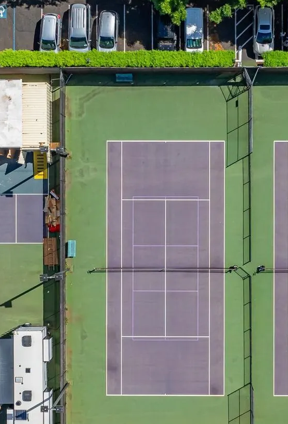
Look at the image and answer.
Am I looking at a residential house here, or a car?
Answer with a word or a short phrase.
car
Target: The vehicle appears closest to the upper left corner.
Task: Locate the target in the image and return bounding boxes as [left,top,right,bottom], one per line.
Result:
[38,12,62,54]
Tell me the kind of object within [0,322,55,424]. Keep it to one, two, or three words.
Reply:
camper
